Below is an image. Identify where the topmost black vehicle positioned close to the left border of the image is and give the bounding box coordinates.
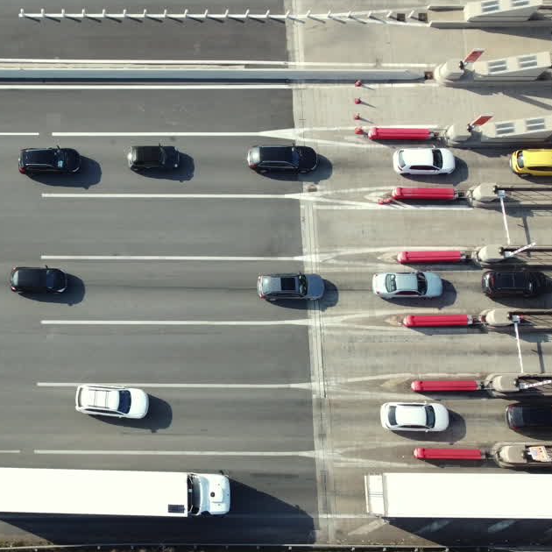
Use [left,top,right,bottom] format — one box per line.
[16,143,80,176]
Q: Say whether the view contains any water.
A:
No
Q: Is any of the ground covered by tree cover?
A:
No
